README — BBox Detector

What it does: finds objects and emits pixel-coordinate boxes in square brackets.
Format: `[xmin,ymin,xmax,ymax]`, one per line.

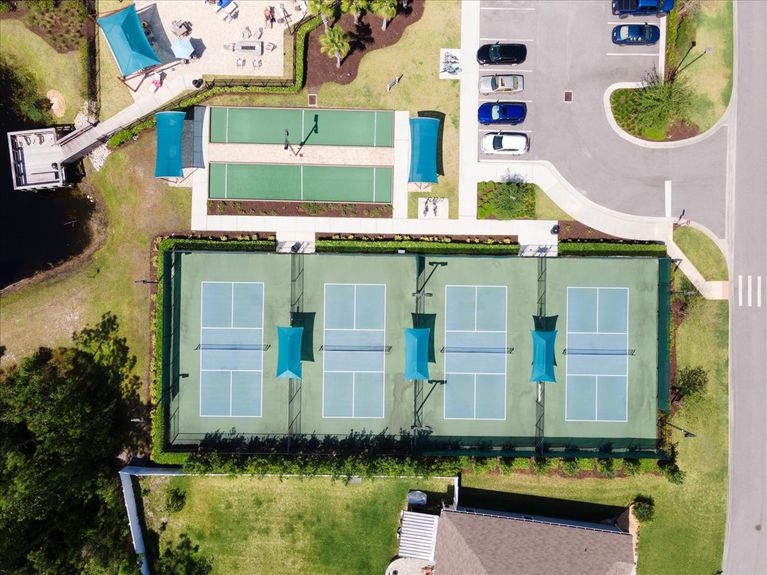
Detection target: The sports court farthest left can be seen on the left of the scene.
[169,253,294,446]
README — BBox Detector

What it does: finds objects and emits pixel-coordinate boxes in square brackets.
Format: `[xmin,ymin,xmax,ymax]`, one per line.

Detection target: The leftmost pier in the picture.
[6,127,70,192]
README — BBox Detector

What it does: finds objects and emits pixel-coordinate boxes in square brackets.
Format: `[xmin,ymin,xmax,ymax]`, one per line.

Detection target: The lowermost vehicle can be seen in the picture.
[480,131,529,155]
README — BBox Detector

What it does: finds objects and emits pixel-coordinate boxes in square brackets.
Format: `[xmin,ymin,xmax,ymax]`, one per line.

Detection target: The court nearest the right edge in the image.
[536,258,658,451]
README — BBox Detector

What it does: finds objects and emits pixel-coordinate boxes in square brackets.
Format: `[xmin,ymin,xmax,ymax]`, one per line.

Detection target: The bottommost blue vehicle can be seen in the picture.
[477,100,527,124]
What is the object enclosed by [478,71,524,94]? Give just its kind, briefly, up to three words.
car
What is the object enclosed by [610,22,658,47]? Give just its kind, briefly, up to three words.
car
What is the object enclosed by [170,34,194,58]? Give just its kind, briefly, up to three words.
umbrella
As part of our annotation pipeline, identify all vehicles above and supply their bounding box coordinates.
[478,71,524,94]
[610,22,658,47]
[480,131,529,155]
[614,0,676,20]
[477,40,527,67]
[477,100,527,124]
